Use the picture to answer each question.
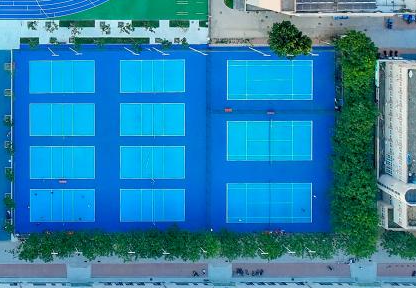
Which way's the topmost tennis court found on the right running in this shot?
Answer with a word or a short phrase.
from side to side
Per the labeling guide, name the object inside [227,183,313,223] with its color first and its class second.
blue tennis court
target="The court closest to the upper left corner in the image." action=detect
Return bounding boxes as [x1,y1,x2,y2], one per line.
[29,60,95,93]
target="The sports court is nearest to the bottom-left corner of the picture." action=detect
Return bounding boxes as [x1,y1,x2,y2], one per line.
[29,189,95,222]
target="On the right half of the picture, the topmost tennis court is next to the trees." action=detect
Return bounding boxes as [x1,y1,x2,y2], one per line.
[227,60,313,100]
